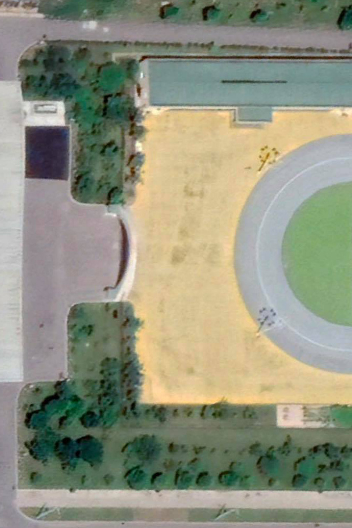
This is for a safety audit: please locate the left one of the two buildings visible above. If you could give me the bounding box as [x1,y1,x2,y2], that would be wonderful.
[21,101,66,127]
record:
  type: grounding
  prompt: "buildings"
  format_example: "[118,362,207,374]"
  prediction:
[21,101,66,127]
[133,58,352,125]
